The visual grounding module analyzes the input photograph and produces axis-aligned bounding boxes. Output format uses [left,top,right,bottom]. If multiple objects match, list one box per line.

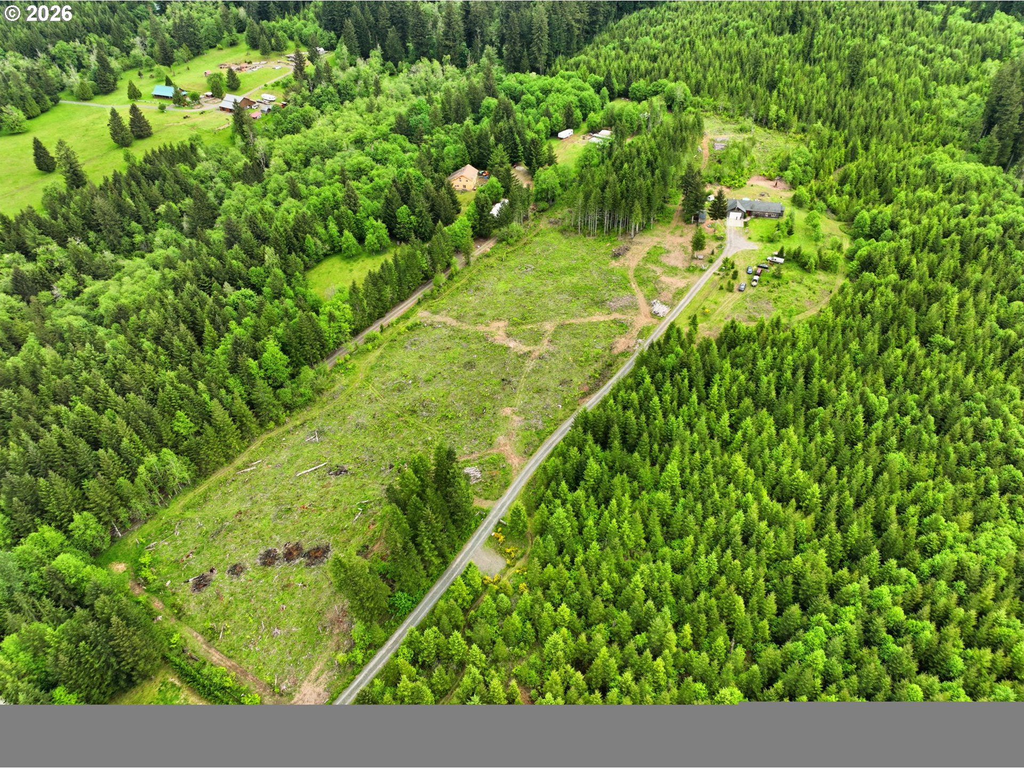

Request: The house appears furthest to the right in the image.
[726,199,788,223]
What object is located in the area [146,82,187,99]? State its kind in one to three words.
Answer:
house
